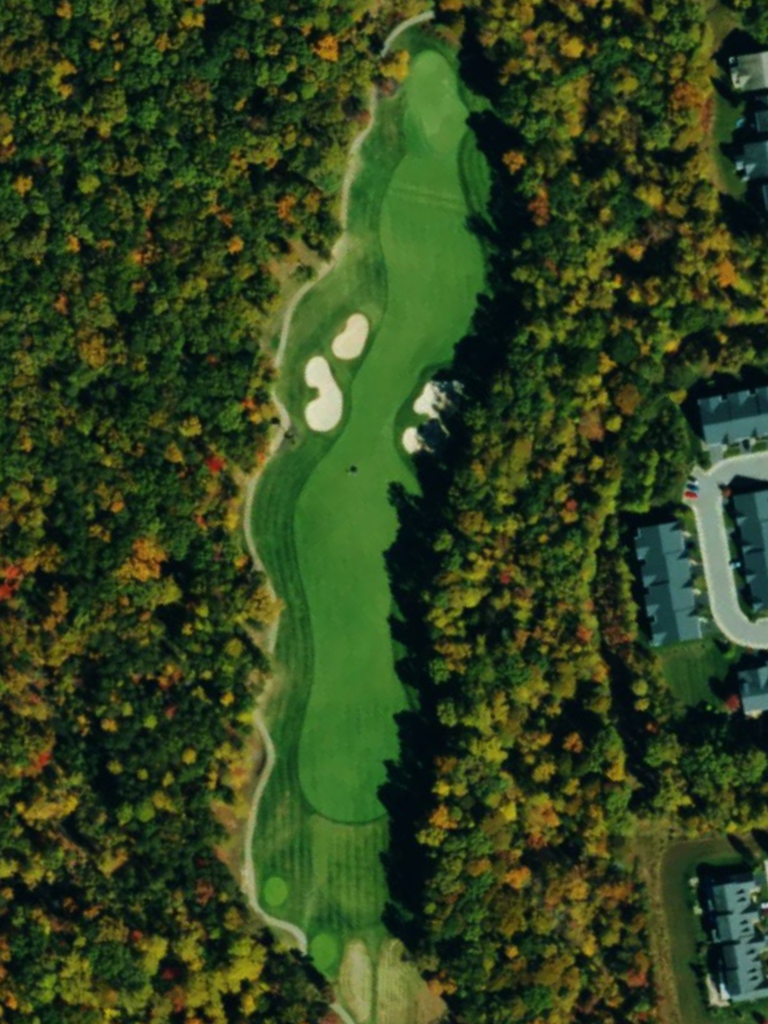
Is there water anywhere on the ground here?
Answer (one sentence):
No, there's no water in this view.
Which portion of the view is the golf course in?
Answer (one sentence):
Look in the center portion of the view to spot the golf course.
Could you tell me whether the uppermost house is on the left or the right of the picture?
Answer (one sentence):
It is on the right.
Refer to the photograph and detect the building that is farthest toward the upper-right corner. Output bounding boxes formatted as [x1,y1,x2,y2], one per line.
[730,53,768,93]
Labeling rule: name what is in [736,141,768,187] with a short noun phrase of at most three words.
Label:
house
